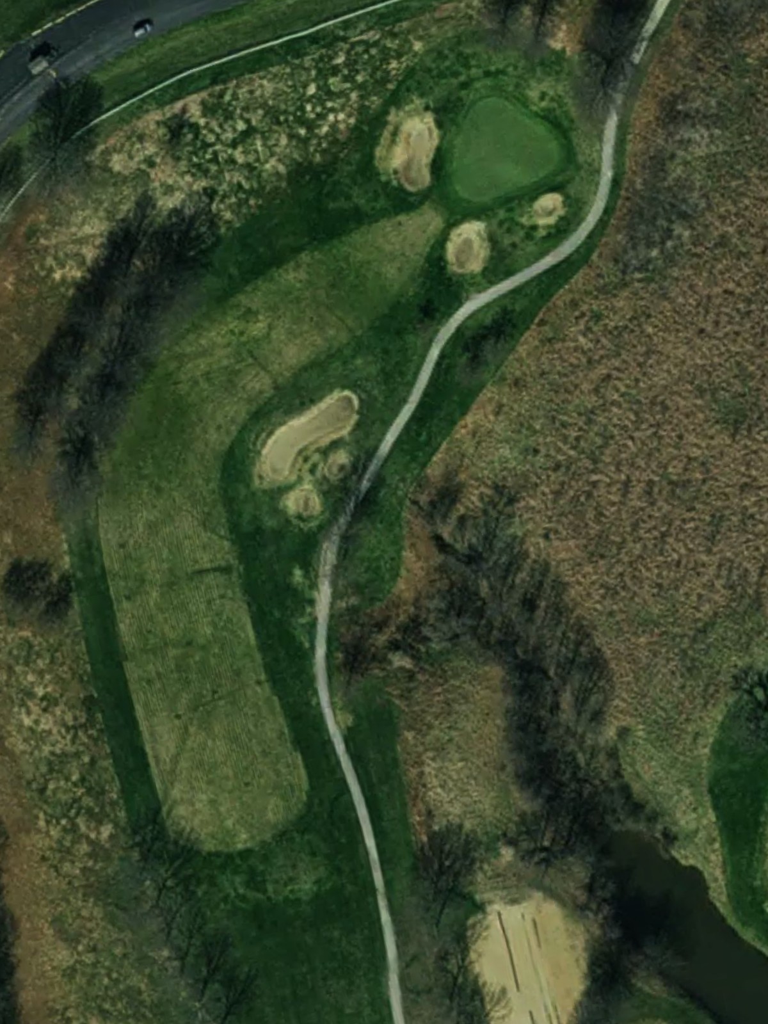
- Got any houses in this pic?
No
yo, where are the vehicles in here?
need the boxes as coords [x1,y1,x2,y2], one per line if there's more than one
[134,24,152,37]
[29,55,51,74]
